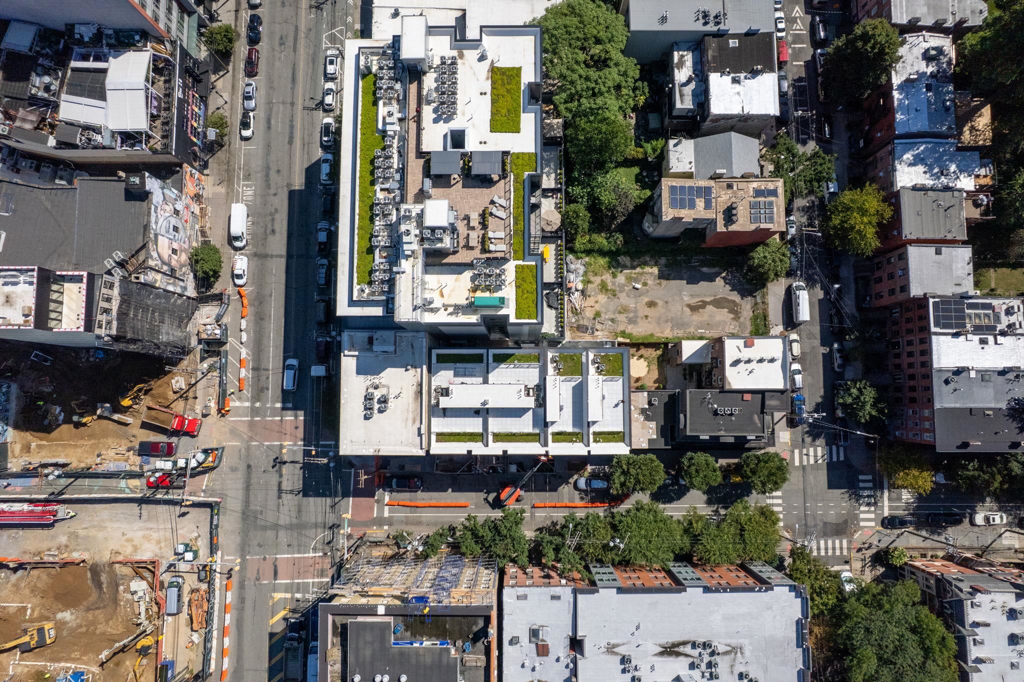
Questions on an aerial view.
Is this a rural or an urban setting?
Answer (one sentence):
The area is urban.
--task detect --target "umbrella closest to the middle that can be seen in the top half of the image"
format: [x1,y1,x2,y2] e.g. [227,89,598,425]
[540,210,561,231]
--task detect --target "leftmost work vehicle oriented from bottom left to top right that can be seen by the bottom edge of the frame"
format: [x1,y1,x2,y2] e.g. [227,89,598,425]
[131,629,158,670]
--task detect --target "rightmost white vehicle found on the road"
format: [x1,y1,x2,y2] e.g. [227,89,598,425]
[969,512,1004,527]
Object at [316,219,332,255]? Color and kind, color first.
black vehicle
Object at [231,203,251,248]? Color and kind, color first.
white vehicle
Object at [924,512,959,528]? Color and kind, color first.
black car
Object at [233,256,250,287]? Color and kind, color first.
white car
